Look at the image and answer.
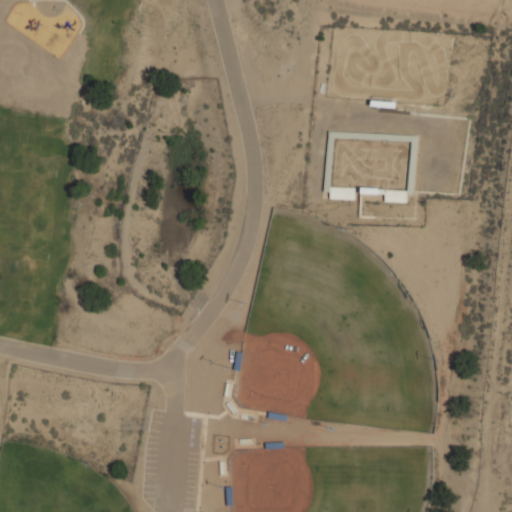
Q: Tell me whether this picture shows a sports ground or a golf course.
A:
sports ground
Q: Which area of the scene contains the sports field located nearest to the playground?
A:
left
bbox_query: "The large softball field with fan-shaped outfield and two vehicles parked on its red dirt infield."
[237,208,437,431]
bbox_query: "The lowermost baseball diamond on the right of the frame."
[232,446,432,512]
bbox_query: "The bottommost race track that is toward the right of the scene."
[330,139,410,191]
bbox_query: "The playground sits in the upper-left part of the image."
[6,2,81,58]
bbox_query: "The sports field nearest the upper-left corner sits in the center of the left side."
[0,106,72,346]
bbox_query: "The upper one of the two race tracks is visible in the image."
[326,28,454,105]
